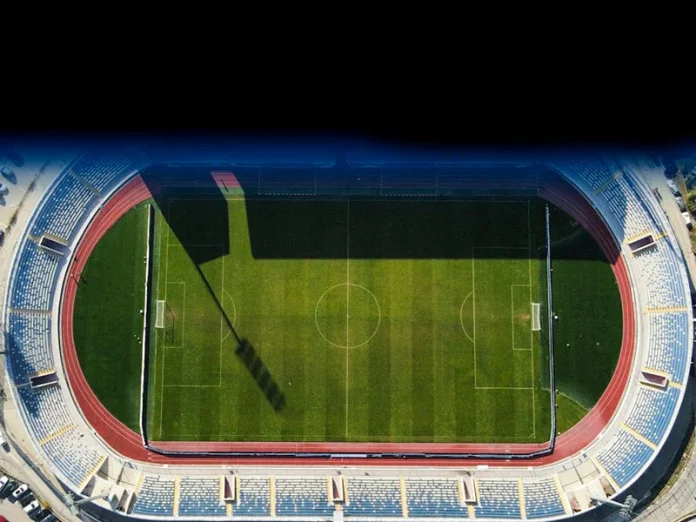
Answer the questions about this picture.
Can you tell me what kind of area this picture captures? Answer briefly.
sports ground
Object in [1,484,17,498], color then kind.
black vehicle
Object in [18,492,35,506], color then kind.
black vehicle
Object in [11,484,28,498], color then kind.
white vehicle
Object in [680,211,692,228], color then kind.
white vehicle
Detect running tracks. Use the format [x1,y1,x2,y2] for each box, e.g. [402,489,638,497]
[61,169,636,468]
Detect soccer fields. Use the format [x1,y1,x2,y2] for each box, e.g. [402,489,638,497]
[149,196,546,445]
